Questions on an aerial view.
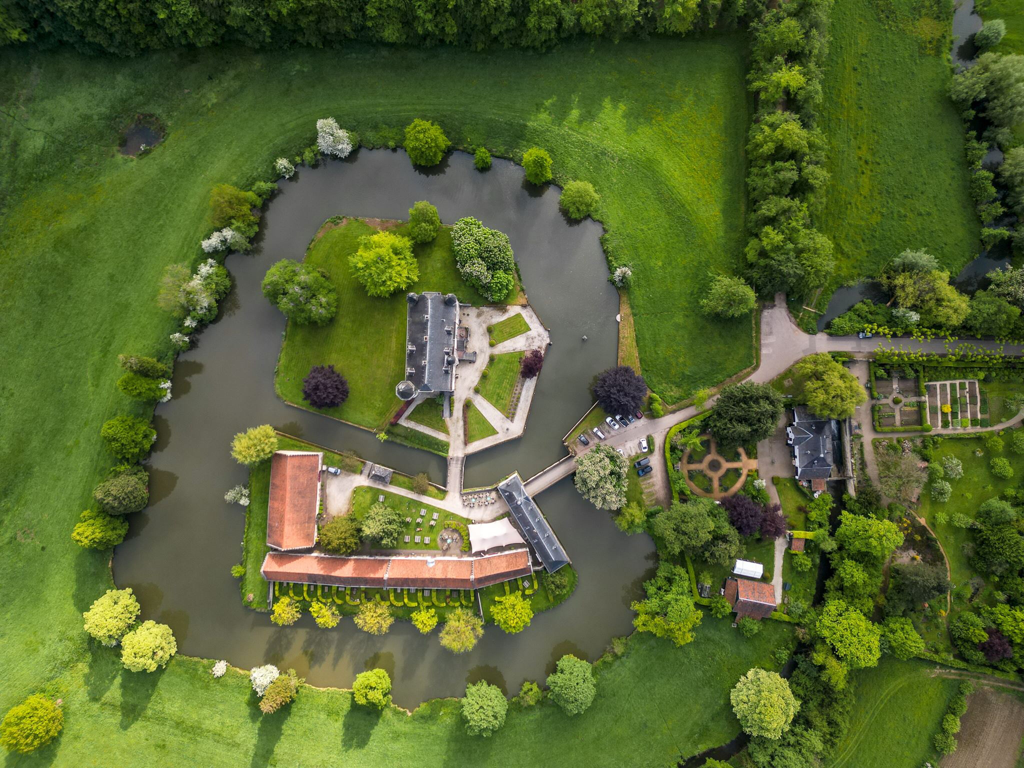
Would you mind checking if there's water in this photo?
Yes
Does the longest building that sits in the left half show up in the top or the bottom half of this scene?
bottom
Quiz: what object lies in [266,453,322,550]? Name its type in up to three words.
barn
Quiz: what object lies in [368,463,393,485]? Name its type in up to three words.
building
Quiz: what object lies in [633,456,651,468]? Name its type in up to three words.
vehicle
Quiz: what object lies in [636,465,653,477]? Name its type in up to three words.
vehicle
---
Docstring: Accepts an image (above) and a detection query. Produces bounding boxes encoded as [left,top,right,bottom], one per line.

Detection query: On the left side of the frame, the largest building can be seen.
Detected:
[263,548,534,590]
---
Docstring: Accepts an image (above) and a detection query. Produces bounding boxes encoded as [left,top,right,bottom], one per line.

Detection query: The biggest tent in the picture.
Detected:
[468,516,526,554]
